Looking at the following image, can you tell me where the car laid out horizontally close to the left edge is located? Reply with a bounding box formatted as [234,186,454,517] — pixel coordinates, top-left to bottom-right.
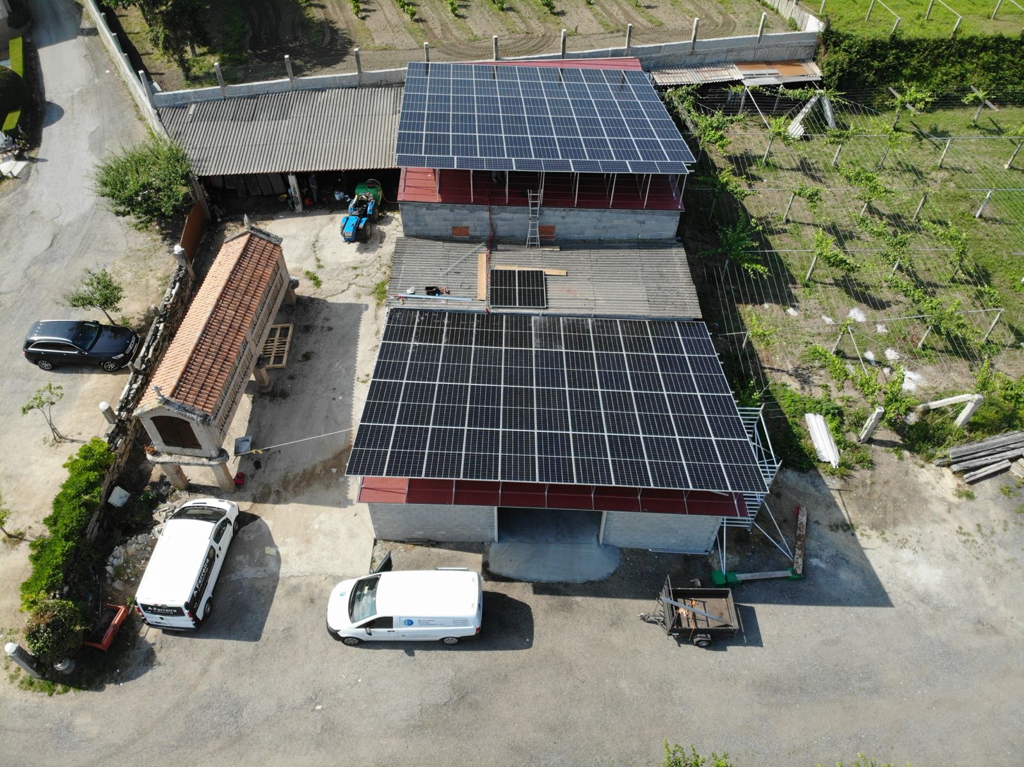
[21,321,136,372]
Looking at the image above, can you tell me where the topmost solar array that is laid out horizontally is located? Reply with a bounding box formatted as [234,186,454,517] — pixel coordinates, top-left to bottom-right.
[390,61,700,207]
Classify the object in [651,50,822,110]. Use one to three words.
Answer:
shed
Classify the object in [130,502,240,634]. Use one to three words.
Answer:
van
